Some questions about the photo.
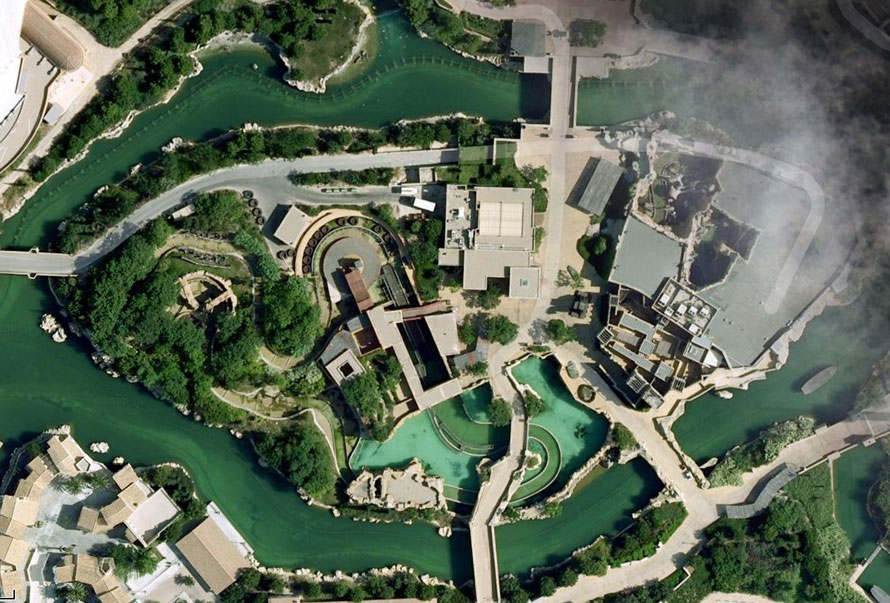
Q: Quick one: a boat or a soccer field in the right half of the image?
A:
boat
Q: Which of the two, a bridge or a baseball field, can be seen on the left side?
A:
bridge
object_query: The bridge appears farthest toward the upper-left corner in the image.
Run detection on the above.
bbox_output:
[0,247,75,280]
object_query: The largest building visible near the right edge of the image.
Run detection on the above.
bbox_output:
[699,148,860,369]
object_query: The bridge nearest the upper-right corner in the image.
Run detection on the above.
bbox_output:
[551,56,578,128]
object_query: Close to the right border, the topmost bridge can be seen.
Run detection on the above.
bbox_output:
[807,395,890,466]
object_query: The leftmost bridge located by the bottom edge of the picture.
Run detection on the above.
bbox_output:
[468,415,529,603]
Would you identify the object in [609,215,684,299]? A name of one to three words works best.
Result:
building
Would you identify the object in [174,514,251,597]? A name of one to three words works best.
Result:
building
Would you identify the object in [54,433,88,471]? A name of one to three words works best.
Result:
house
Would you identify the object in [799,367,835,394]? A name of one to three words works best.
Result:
boat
